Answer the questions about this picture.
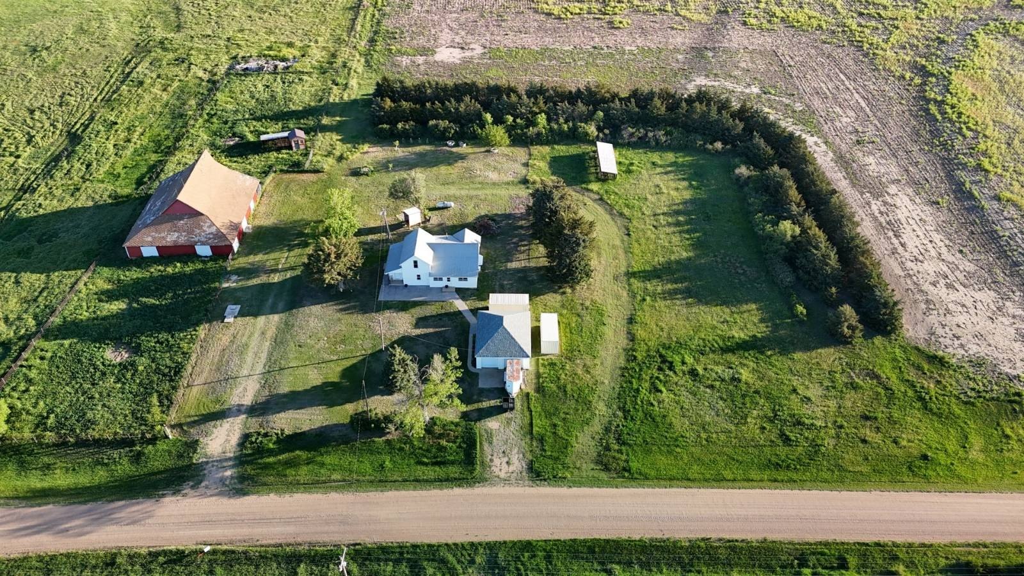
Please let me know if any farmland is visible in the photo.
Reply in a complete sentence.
Yes, some farmland is visible.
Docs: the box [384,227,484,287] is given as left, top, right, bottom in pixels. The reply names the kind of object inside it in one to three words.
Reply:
house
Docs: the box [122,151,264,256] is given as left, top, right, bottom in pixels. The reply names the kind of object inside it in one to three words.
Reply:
barn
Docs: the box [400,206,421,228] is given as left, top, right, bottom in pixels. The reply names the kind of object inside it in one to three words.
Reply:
shed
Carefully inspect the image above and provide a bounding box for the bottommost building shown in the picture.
[475,311,531,368]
